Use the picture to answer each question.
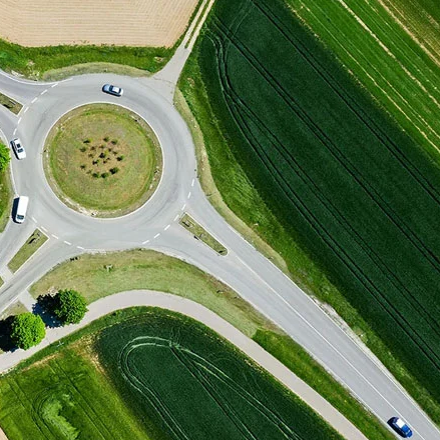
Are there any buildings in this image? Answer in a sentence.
No, this view has no building in it.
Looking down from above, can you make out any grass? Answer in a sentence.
Yes, the picture does contain grass.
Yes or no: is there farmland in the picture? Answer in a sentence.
Yes, there is farmland in the image.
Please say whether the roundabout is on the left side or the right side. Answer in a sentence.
It is on the left.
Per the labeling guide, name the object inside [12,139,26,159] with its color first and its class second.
white car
